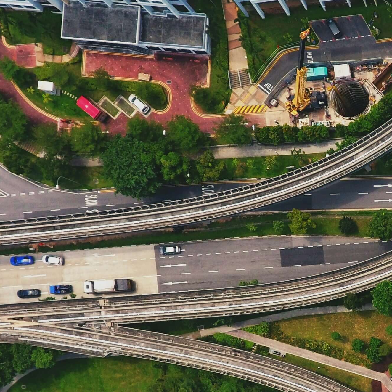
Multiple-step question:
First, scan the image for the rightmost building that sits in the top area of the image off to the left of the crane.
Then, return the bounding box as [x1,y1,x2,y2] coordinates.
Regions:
[140,10,215,59]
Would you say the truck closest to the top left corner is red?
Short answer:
Yes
